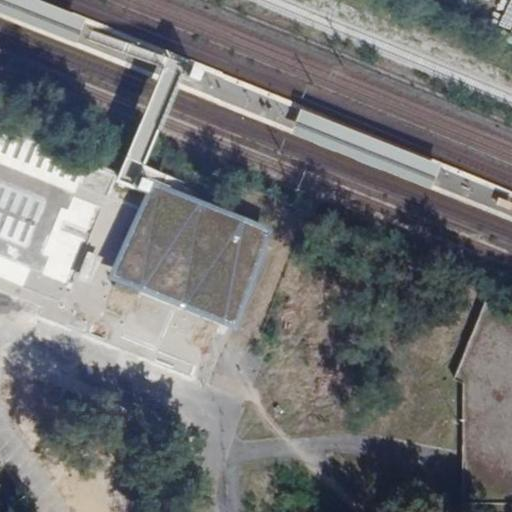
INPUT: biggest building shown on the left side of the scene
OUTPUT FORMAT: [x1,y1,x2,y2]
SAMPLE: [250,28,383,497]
[116,176,272,324]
